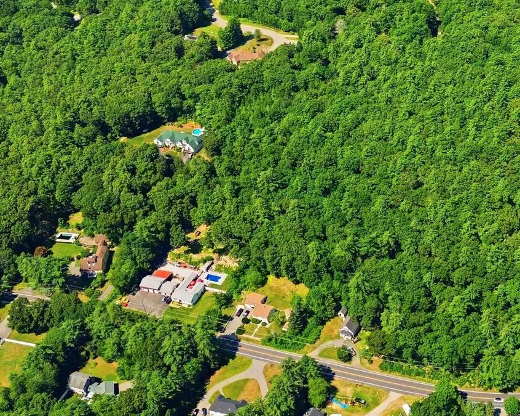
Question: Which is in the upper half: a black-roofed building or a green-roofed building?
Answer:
green-roofed building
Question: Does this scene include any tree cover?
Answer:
Yes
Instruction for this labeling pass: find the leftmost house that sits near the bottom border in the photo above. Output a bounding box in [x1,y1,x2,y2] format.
[66,372,118,400]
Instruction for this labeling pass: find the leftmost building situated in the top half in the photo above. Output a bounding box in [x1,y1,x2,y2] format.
[155,132,202,154]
